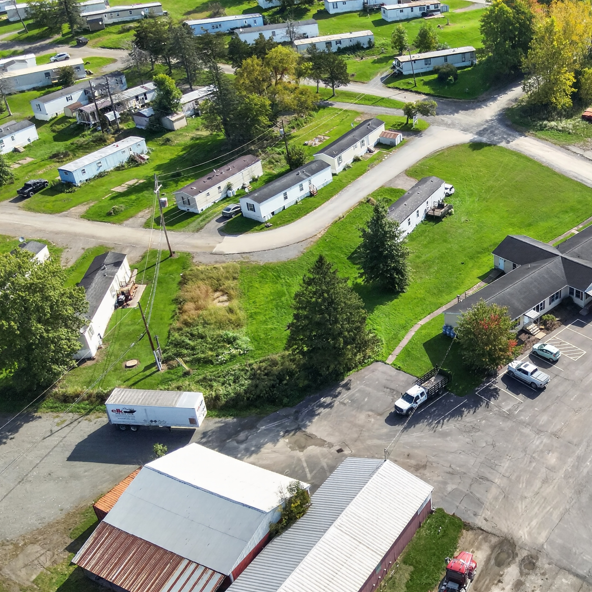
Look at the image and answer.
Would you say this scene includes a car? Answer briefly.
Yes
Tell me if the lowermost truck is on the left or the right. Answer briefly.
right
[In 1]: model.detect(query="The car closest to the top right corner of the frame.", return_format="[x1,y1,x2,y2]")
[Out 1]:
[439,177,460,198]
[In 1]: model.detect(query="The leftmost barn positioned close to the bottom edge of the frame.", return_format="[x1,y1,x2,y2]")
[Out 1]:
[71,443,310,592]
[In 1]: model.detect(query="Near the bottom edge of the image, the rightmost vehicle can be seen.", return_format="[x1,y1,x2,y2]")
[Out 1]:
[443,546,487,592]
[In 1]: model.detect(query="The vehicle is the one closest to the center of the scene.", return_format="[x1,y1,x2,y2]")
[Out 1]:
[217,202,244,218]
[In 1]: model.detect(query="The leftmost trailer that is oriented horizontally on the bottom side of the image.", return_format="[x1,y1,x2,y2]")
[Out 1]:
[105,388,207,430]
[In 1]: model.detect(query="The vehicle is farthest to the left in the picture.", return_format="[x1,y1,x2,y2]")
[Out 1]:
[11,181,54,201]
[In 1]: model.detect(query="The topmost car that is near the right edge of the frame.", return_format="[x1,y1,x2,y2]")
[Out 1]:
[530,342,563,364]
